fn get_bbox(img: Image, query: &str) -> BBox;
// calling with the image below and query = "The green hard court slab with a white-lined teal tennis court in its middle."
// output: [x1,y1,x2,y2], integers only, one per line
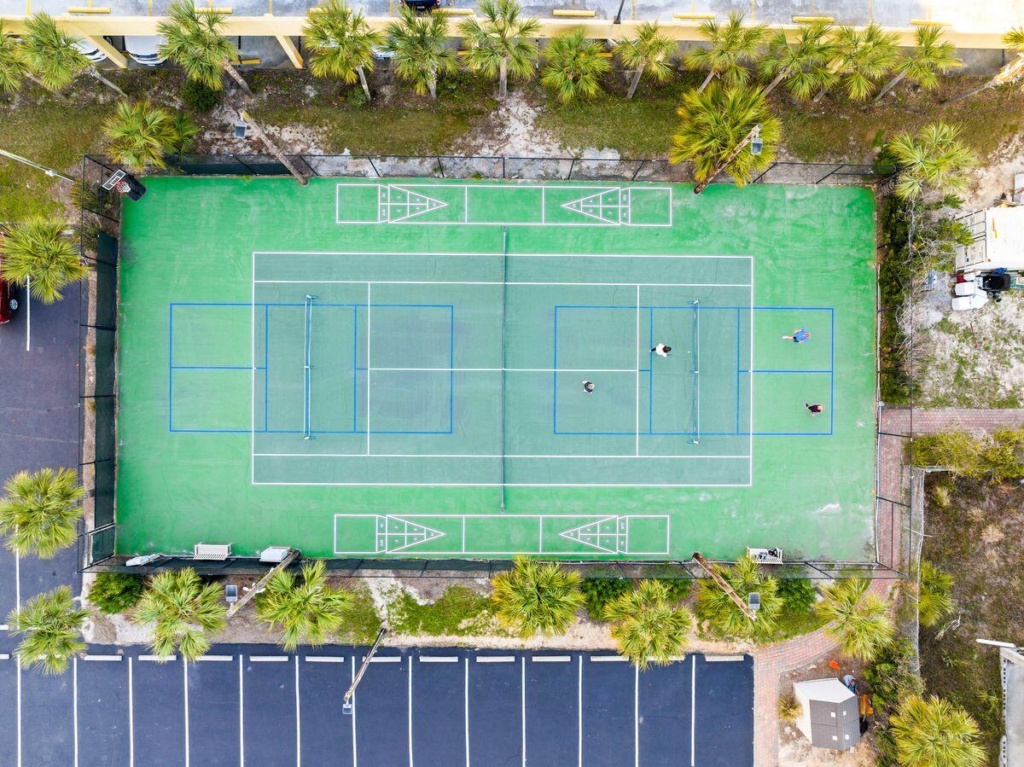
[115,178,877,562]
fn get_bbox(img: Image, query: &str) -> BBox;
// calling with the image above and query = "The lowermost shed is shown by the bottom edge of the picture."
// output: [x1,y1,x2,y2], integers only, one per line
[793,677,861,754]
